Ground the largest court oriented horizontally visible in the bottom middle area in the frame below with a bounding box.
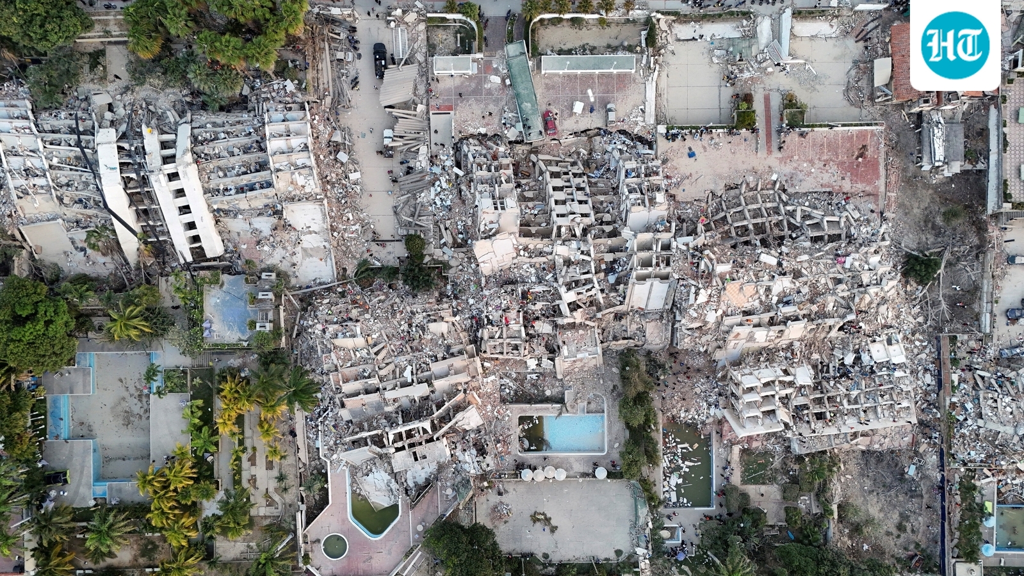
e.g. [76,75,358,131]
[475,479,650,563]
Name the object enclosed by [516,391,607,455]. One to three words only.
swimming pool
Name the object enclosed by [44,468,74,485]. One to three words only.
tent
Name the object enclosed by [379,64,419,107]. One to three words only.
shed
